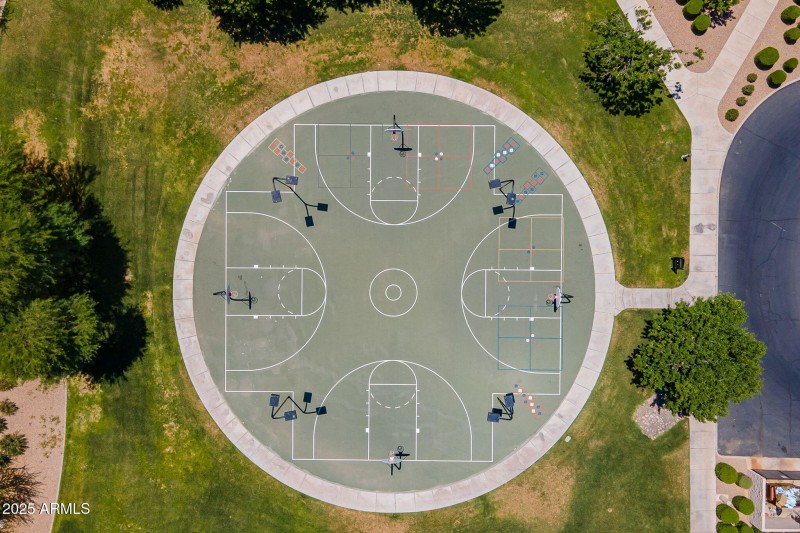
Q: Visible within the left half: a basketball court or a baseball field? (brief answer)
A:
basketball court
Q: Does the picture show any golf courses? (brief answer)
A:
No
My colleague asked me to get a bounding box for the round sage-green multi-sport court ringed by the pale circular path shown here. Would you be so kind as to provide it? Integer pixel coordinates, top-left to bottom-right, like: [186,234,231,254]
[194,91,594,492]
